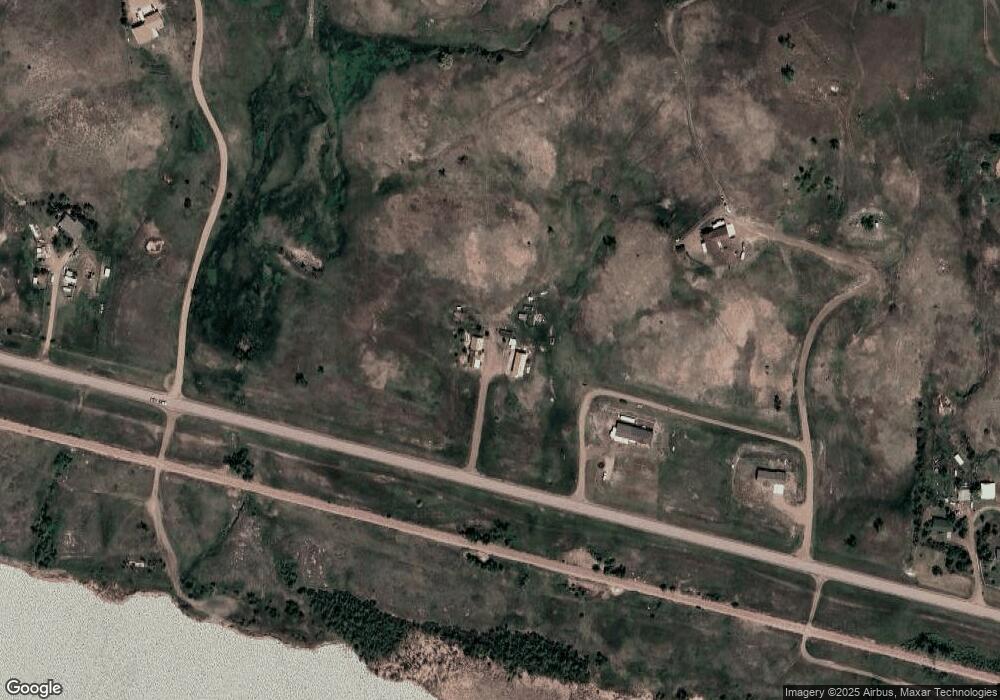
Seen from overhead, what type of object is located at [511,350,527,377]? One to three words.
barn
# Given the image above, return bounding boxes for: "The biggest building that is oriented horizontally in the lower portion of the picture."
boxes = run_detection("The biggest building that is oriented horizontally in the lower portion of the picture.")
[615,423,654,445]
